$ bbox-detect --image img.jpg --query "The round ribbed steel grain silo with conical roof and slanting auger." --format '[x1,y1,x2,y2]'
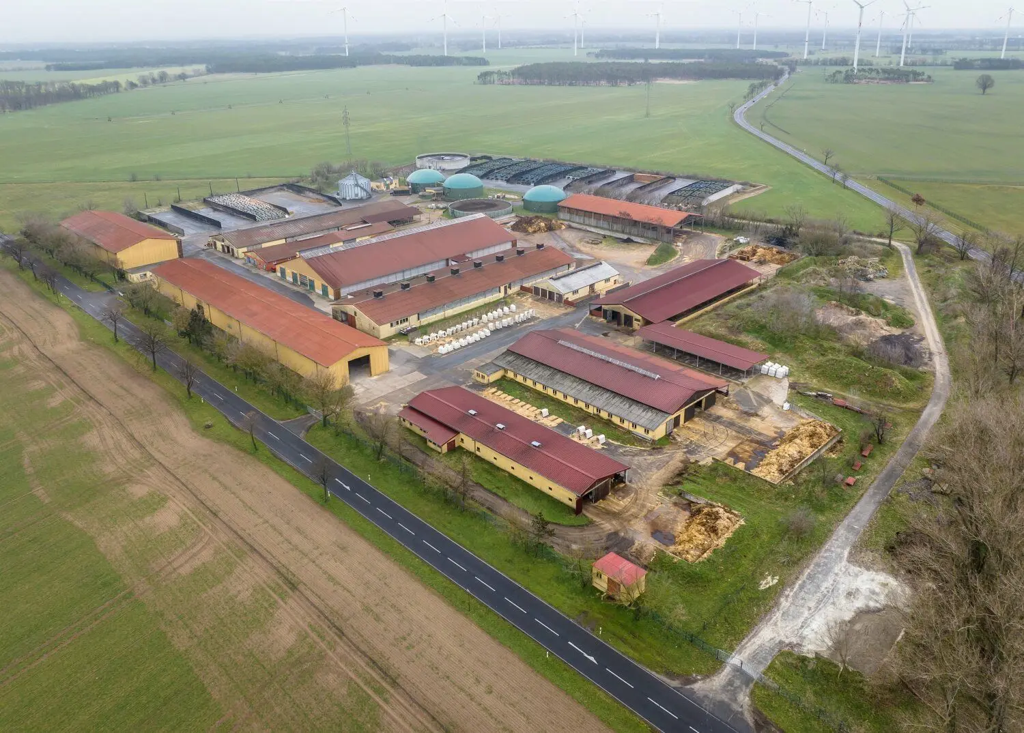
[336,169,371,200]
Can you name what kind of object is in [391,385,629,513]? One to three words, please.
barn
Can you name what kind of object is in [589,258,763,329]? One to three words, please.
barn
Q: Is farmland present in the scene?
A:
Yes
